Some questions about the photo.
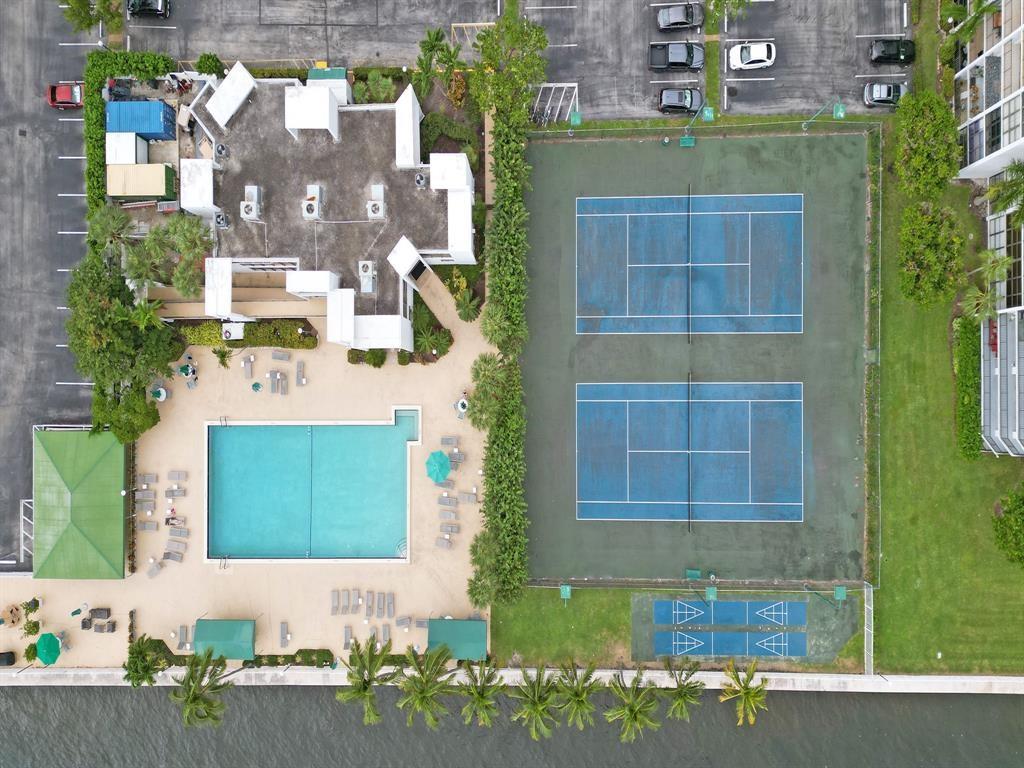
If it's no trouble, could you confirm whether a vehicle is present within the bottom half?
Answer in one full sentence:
No, there is no vehicle within the bottom half.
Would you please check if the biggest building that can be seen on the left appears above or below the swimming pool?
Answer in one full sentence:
It's above the swimming pool that the biggest building that can be seen on the left shows up.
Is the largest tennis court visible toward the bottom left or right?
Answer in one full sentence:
The largest tennis court visible toward the bottom is on the right side of the image.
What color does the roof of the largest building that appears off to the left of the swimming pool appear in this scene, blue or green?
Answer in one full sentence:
From above, the roof of the largest building that appears off to the left of the swimming pool appears green.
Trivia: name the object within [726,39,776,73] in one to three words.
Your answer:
car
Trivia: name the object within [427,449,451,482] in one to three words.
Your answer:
umbrella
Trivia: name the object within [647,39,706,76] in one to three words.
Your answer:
vehicle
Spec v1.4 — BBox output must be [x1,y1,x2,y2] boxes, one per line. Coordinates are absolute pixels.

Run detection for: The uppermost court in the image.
[529,134,866,358]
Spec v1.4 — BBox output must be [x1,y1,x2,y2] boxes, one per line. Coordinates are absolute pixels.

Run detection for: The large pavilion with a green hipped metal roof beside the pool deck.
[33,422,137,579]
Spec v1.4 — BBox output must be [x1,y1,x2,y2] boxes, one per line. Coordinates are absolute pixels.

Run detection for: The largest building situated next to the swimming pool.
[181,62,475,351]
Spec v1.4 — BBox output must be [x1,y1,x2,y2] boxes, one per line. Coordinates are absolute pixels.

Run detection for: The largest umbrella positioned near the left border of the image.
[41,630,69,662]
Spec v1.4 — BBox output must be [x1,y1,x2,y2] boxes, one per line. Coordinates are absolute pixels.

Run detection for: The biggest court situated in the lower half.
[529,358,866,581]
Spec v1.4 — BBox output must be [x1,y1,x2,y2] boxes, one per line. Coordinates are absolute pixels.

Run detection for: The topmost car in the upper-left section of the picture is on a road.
[125,0,175,20]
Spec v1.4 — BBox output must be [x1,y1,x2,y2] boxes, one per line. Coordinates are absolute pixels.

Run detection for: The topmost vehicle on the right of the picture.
[655,1,705,34]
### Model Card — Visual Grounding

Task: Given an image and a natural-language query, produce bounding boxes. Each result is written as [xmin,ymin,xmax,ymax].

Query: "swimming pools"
[206,406,421,563]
